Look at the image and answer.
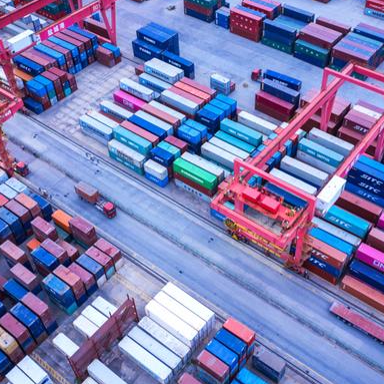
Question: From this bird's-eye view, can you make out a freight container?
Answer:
Yes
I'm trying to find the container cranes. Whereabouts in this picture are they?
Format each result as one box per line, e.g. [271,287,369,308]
[0,0,121,111]
[0,91,23,180]
[208,63,384,275]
